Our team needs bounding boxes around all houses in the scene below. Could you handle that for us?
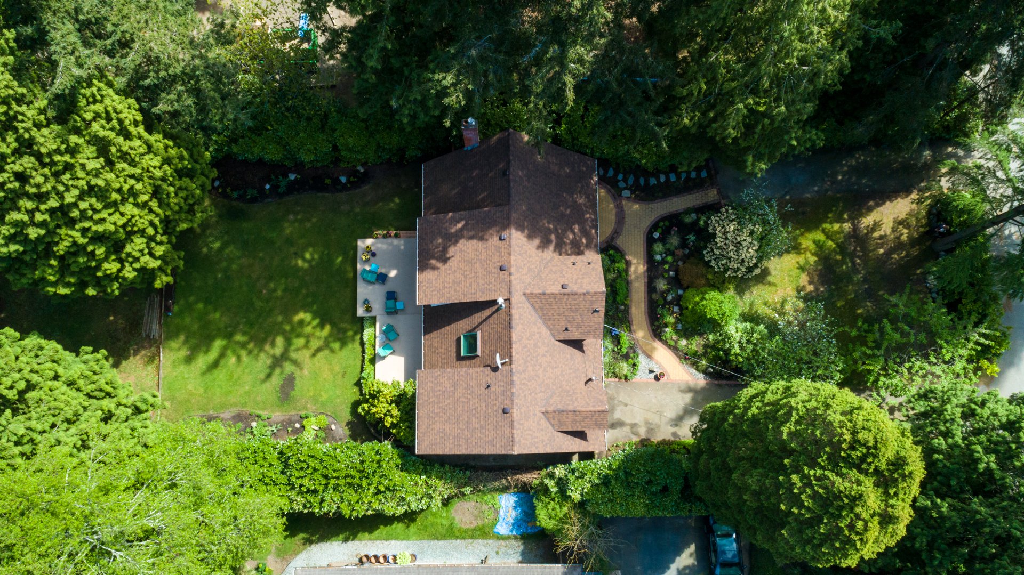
[413,113,608,454]
[294,562,582,575]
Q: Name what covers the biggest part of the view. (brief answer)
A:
trees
